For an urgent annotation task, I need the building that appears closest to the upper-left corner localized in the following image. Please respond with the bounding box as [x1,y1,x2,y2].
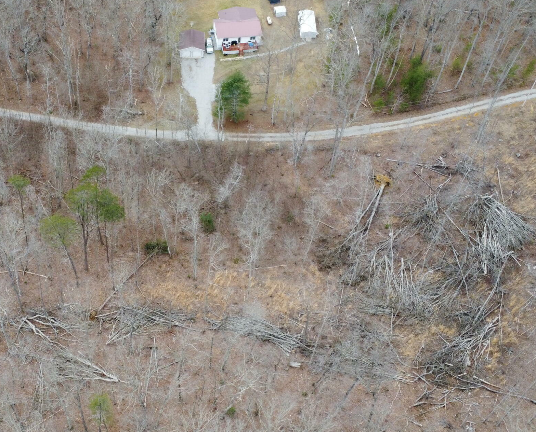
[176,25,205,57]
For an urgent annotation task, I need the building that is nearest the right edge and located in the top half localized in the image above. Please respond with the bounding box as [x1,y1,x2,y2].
[300,2,320,41]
